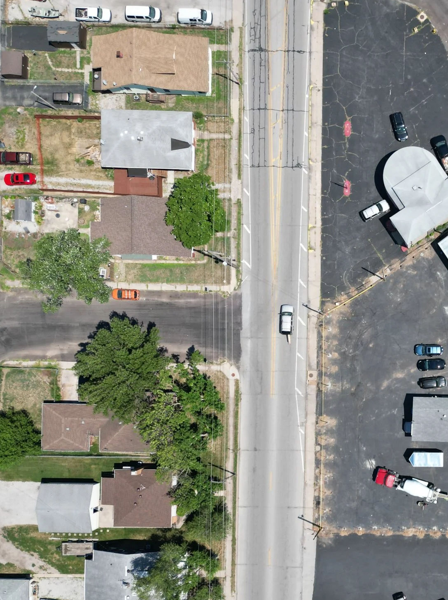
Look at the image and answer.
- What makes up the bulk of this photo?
paved ground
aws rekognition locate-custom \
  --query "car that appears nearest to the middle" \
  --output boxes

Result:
[279,305,294,335]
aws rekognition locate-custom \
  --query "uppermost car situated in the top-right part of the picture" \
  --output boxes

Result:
[390,112,408,144]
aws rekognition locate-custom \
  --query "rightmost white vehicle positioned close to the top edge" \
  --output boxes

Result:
[175,7,214,25]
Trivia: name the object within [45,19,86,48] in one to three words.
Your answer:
shed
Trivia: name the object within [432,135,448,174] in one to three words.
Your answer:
vehicle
